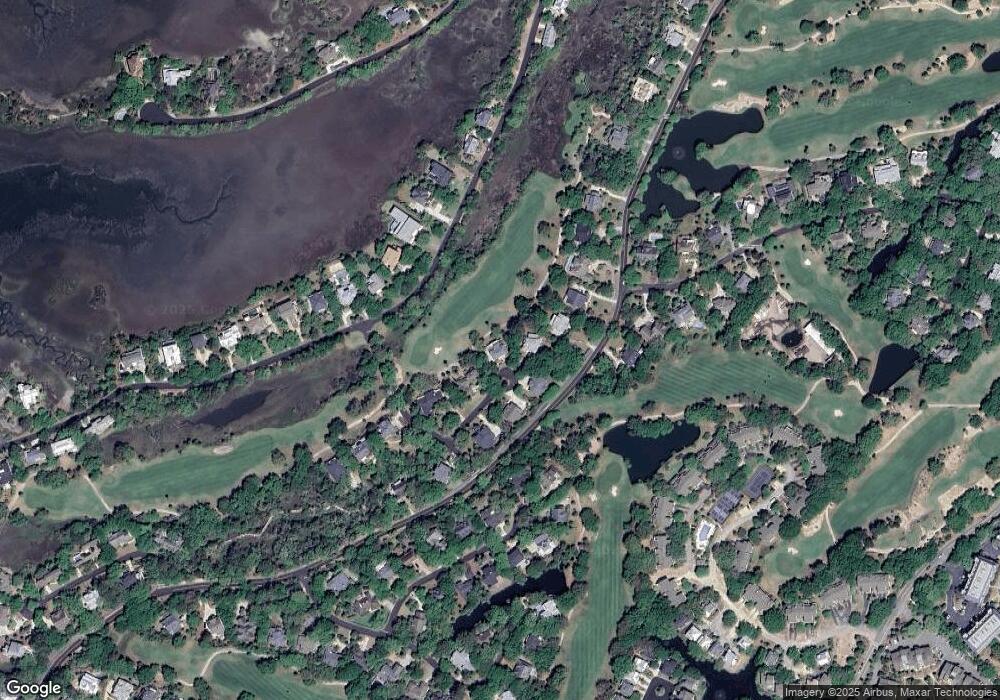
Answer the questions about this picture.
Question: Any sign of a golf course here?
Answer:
Yes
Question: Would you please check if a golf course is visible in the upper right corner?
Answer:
Yes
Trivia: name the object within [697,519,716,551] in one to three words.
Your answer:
swimming pool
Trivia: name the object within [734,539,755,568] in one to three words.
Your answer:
building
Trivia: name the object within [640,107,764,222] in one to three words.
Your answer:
pond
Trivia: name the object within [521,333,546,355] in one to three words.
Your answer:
house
